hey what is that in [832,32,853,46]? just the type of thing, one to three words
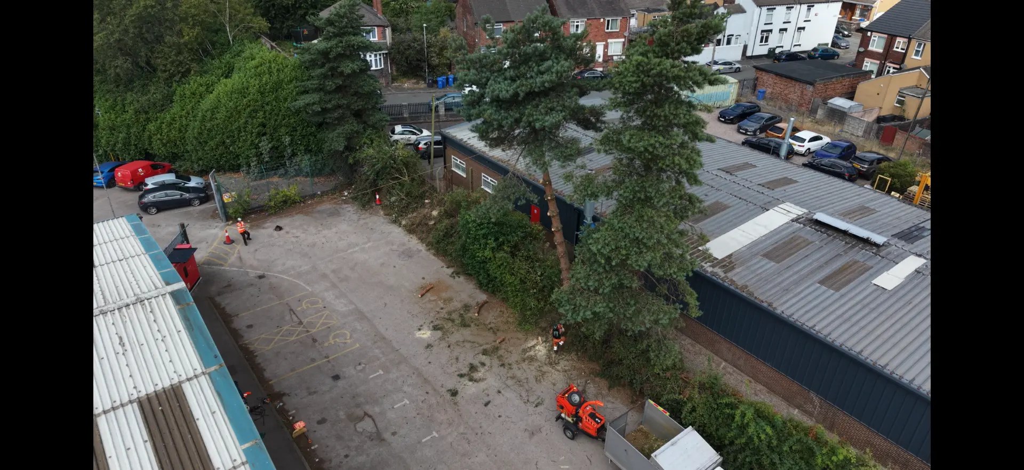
car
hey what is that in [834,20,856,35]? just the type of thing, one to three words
car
